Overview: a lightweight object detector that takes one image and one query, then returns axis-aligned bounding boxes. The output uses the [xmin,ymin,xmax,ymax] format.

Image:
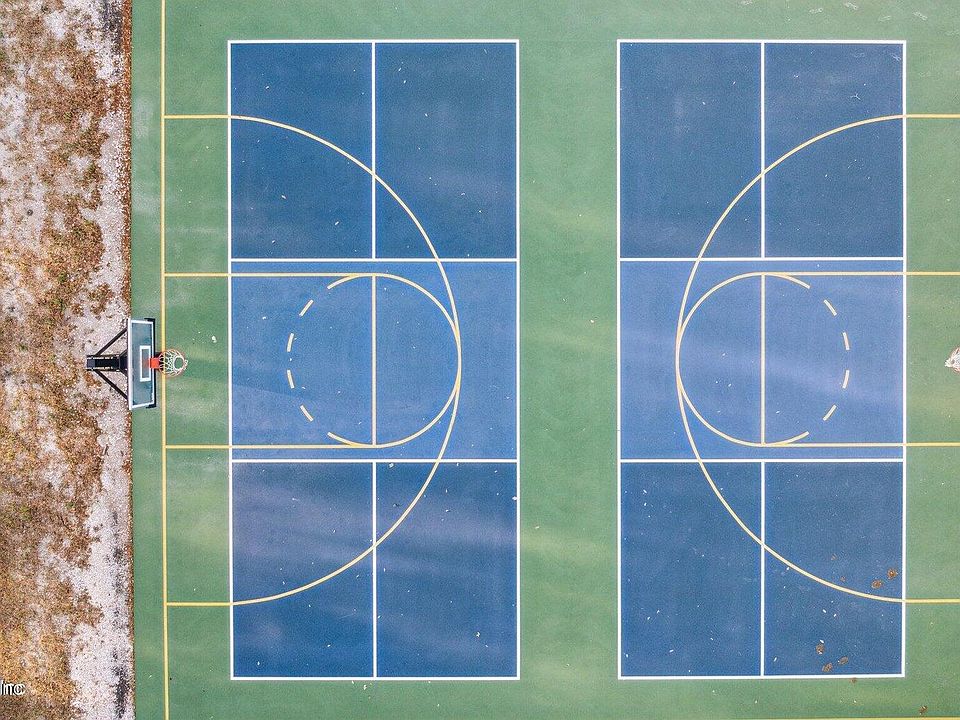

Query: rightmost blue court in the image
[617,39,907,679]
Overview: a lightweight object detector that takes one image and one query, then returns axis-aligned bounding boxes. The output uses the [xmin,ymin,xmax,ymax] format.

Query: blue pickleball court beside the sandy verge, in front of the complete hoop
[228,39,520,681]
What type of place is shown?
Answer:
sports ground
